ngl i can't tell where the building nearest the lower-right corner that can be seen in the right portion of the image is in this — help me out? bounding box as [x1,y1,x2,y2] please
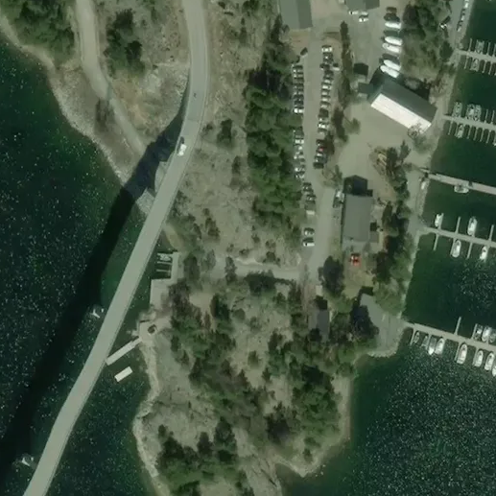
[361,291,391,328]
